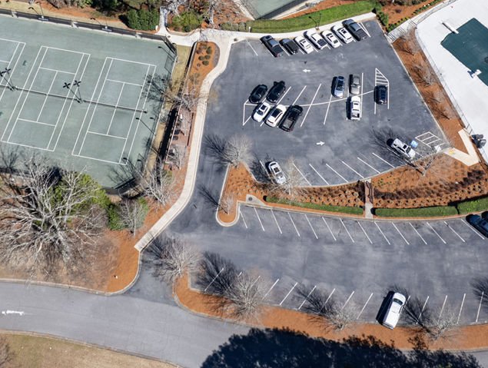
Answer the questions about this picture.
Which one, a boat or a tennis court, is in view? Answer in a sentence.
The image shows a tennis court.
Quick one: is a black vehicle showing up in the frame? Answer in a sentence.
Yes, there's a black vehicle here.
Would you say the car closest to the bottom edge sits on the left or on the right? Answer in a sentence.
The car closest to the bottom edge appears in the right half of the scene.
